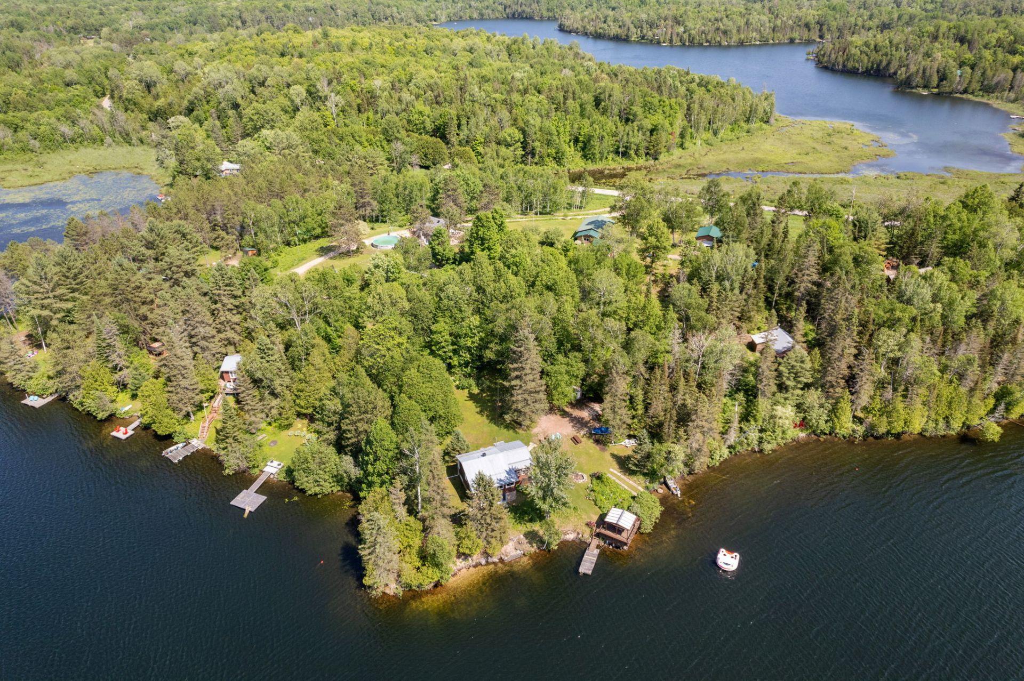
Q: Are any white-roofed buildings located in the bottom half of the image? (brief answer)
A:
Yes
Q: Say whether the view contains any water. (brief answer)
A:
Yes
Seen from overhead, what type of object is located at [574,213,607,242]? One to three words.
building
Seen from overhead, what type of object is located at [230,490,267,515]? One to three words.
pier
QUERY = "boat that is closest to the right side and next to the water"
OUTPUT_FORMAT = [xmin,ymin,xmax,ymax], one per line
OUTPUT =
[665,476,684,498]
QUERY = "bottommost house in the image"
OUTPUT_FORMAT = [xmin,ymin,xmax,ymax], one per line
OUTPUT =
[448,433,542,511]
